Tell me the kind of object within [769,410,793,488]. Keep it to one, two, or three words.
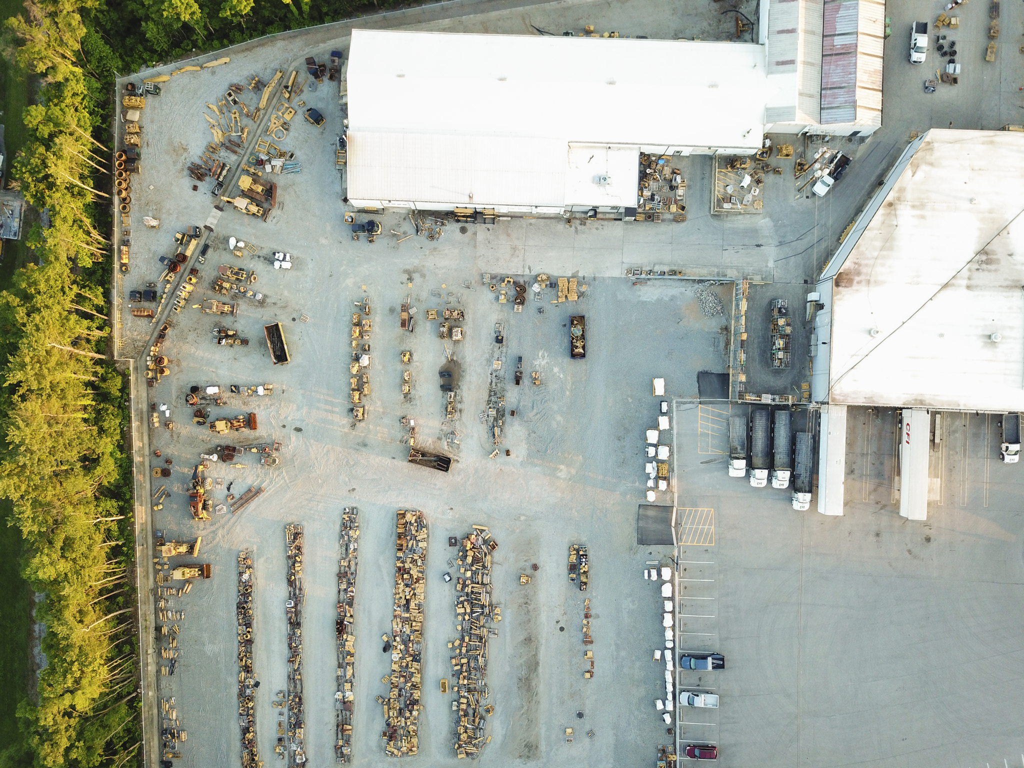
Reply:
truck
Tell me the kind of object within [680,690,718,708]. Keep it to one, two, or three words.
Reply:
vehicle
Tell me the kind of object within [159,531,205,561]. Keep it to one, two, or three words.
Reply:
work vehicle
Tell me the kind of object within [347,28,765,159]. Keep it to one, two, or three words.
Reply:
warehouse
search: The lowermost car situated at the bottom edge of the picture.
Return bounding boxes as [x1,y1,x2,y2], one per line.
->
[684,743,719,762]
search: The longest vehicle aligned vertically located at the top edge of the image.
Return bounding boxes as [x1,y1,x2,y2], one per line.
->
[908,21,930,66]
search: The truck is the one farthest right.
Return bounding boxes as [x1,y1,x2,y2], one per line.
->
[991,414,1021,462]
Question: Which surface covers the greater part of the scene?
paved ground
